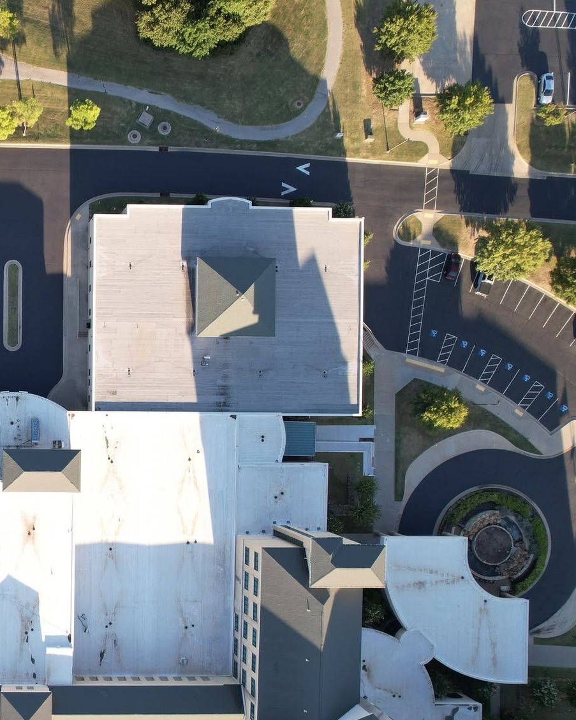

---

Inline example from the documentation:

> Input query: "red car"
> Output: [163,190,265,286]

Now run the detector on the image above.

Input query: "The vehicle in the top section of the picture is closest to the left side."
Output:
[442,252,461,282]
